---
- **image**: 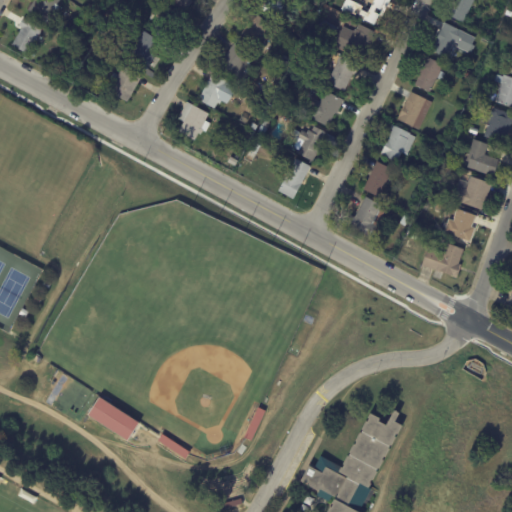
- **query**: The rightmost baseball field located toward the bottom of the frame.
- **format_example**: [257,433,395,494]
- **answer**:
[40,200,326,460]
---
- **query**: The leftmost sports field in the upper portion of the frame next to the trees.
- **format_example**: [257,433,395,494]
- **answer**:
[0,92,98,258]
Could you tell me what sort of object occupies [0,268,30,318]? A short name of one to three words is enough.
tennis court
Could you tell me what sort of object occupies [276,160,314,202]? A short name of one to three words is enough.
house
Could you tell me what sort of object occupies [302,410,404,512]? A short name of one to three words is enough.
building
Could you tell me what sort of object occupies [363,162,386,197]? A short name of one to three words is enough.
house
